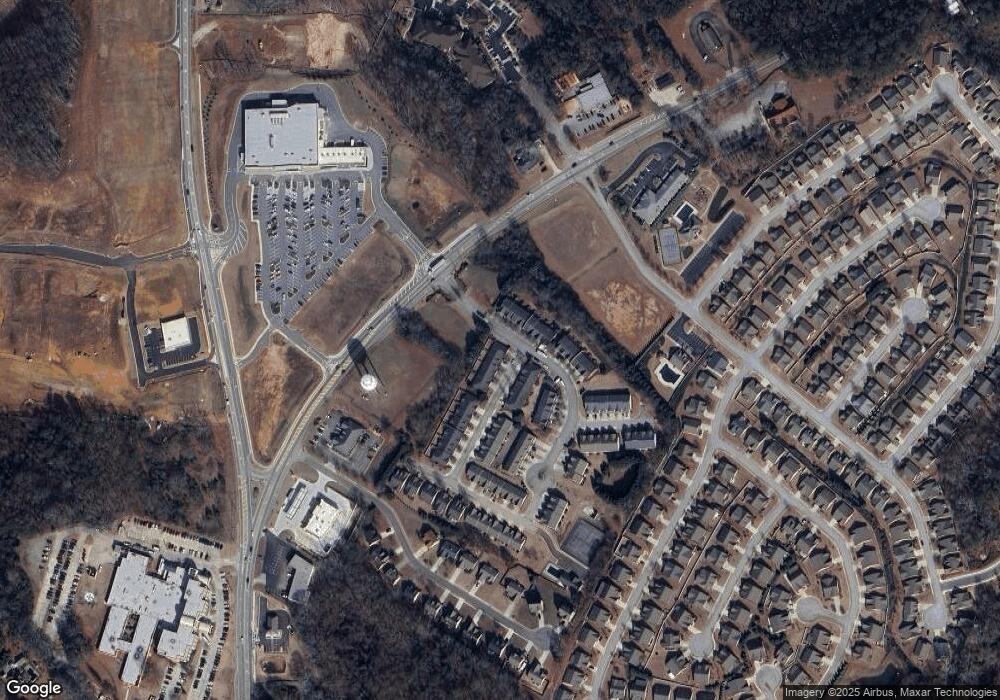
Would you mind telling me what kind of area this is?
residential area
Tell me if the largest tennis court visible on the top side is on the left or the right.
right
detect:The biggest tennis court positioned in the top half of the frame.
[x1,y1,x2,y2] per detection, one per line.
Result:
[658,226,682,265]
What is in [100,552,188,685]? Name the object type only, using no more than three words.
building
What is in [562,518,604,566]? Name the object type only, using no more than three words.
sports court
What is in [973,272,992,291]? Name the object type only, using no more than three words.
house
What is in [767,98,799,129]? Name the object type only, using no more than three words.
barn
